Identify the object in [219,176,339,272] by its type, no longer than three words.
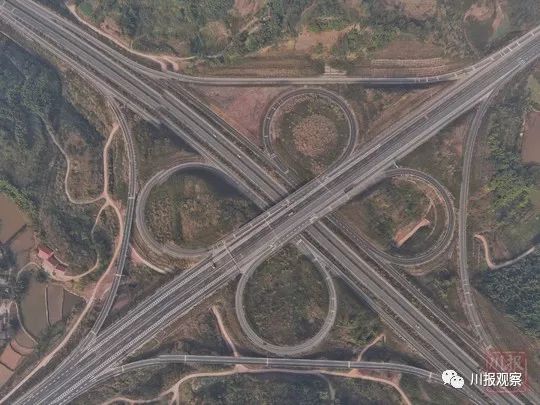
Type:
overpass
